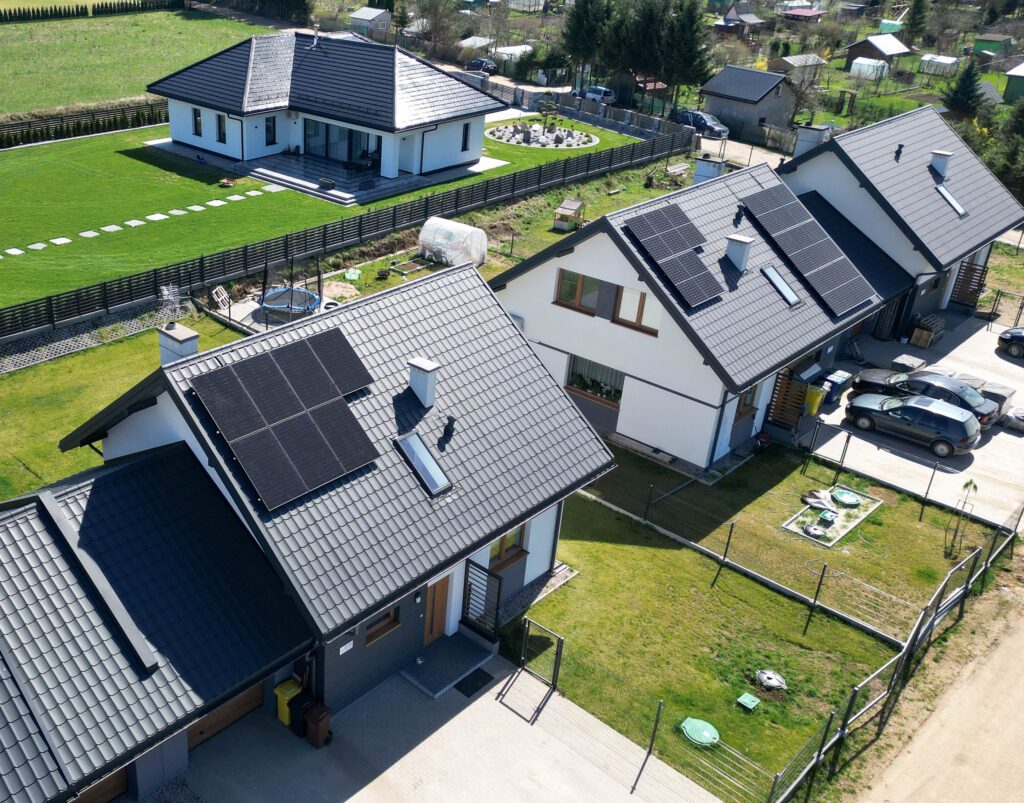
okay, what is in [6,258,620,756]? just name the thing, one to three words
house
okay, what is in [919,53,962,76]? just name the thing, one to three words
greenhouse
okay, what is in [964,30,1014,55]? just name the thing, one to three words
shed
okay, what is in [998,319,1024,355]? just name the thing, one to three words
car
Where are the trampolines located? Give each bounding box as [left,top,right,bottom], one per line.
[255,248,323,325]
